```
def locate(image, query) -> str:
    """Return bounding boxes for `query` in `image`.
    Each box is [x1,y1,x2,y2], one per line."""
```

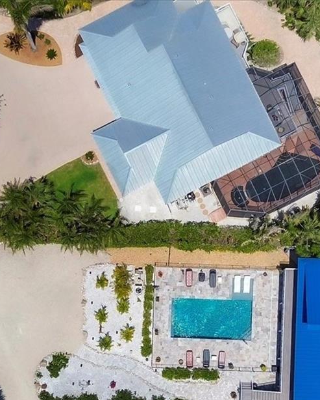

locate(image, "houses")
[275,258,320,400]
[78,0,281,204]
